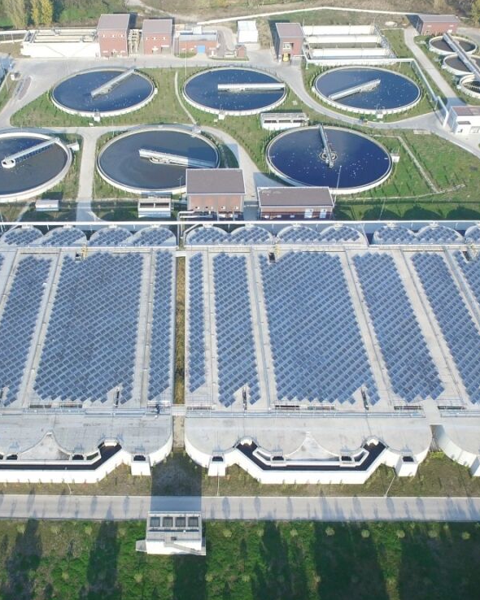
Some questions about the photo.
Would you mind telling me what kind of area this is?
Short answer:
industrial area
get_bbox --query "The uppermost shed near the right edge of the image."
[415,15,461,34]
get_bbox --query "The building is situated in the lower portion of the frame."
[133,508,207,561]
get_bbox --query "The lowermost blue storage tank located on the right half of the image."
[265,121,394,195]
